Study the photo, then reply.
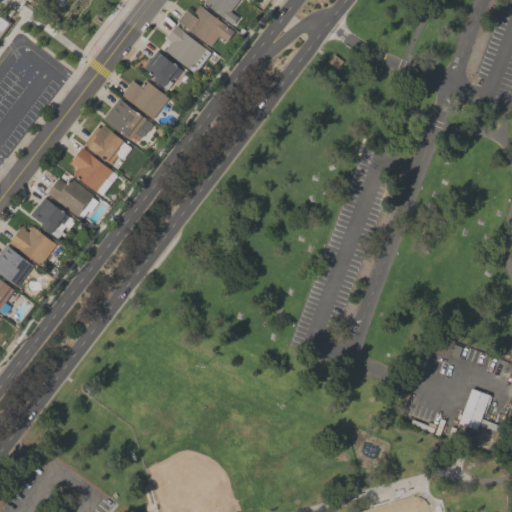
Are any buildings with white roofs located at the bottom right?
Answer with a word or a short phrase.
Yes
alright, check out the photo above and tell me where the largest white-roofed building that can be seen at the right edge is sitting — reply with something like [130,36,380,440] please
[460,389,498,432]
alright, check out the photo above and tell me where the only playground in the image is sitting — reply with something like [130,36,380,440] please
[352,430,390,471]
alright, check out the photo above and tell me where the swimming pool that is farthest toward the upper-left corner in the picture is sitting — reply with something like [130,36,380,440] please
[159,104,176,125]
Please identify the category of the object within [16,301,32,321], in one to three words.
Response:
swimming pool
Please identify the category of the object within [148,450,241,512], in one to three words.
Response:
baseball field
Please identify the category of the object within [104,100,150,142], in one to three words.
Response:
house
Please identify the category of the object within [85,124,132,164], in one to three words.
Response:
house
